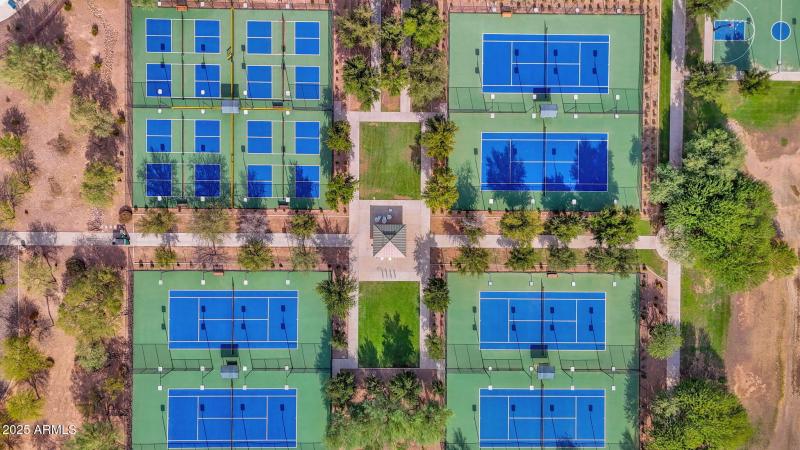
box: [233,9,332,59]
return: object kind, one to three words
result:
sports court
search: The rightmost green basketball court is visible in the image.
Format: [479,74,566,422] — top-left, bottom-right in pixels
[713,0,800,72]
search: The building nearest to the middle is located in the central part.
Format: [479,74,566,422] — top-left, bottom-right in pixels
[373,224,406,257]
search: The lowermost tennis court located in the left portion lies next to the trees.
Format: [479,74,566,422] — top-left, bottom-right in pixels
[133,369,330,450]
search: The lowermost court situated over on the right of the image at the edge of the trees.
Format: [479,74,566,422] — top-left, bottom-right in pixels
[446,369,638,450]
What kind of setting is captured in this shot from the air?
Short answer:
sports ground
